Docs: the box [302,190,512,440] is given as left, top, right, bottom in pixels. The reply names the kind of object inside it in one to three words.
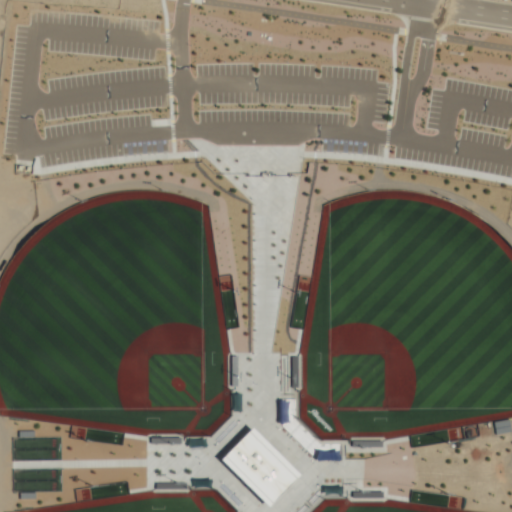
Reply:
baseball field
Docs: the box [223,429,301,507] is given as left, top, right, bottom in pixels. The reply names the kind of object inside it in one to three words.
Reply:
building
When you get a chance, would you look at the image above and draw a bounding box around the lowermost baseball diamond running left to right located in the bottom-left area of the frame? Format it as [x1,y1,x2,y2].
[8,490,230,512]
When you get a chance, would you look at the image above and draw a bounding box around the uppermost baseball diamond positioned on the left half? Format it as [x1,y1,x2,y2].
[0,190,232,438]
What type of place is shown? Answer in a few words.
sports ground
